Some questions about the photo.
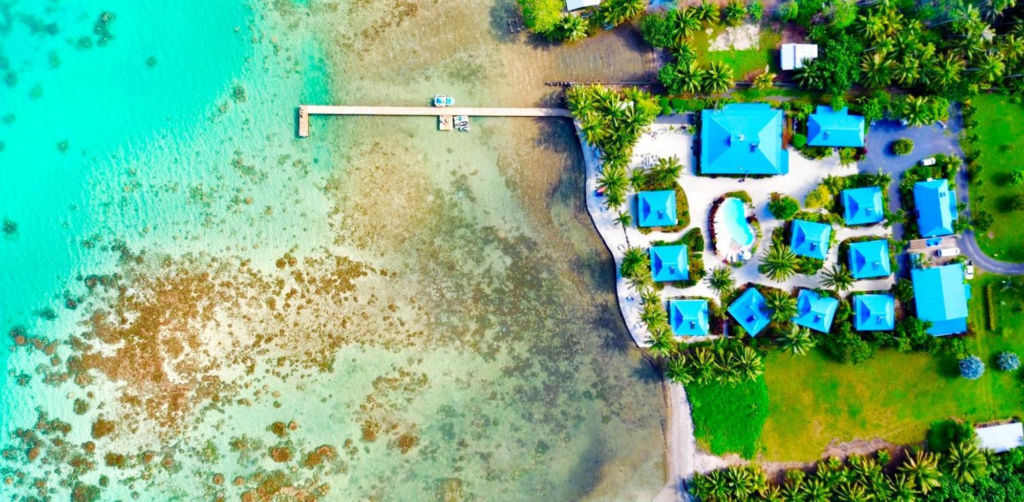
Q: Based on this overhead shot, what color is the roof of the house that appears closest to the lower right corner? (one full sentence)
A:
From above, the roof of the house that appears closest to the lower right corner looks white.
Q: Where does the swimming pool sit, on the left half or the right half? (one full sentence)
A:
The swimming pool appears in the right half of the scene.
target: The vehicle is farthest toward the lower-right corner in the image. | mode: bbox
[961,261,973,281]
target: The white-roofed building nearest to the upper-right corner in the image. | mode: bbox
[778,43,818,71]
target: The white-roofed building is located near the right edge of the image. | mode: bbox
[972,421,1024,453]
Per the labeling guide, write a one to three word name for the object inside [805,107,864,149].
building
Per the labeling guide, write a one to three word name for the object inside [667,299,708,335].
house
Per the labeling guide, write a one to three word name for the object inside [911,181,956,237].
house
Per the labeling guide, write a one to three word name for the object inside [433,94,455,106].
boat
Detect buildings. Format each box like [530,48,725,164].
[778,43,818,71]
[566,0,600,14]
[724,288,771,336]
[844,240,889,278]
[701,101,788,174]
[972,421,1024,453]
[635,191,676,227]
[835,187,882,225]
[903,263,968,336]
[788,289,838,329]
[786,220,831,259]
[911,181,956,237]
[851,295,893,330]
[805,107,864,149]
[667,299,708,335]
[647,245,689,281]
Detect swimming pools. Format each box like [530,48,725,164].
[720,197,755,247]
